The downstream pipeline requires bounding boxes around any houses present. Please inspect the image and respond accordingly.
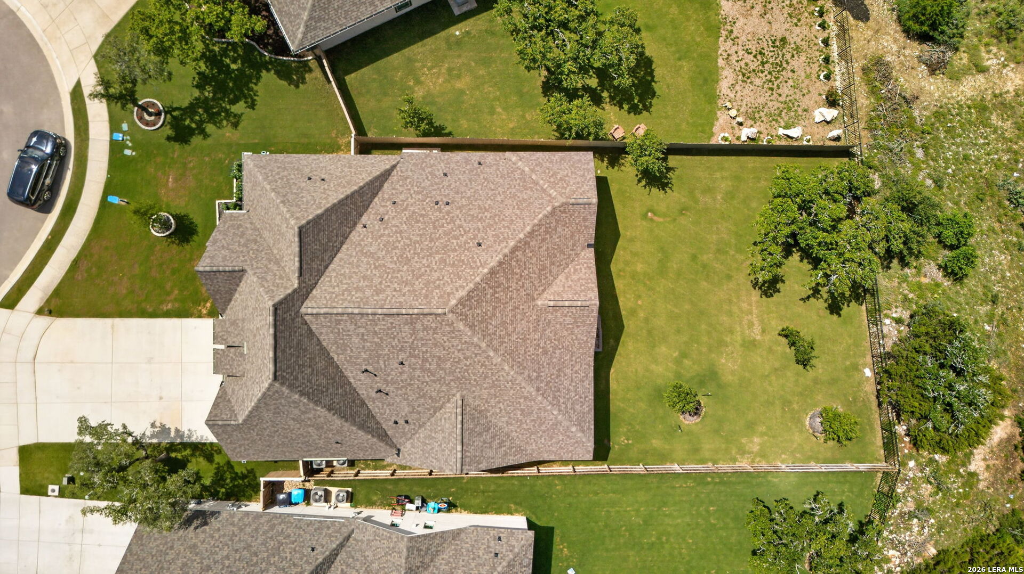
[194,150,599,474]
[269,0,453,56]
[117,499,534,574]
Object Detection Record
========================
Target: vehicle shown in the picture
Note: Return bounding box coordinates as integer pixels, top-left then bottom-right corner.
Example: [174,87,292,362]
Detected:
[0,126,65,209]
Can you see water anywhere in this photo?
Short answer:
No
